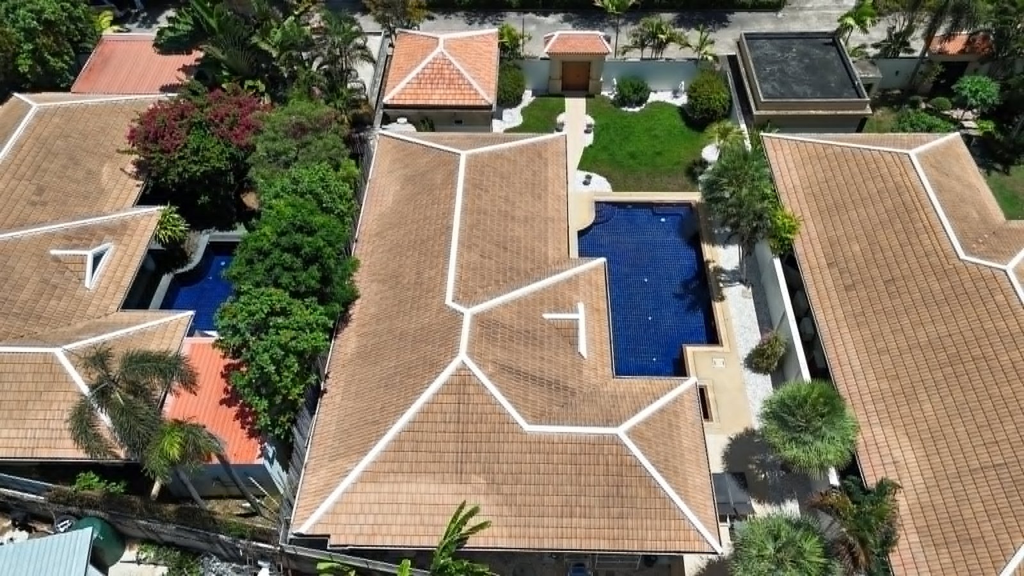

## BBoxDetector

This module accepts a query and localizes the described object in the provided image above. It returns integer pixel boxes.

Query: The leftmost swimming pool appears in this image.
[149,227,246,332]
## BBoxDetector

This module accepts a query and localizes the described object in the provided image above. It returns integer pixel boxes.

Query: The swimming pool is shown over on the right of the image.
[572,197,729,378]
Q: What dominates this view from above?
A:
buildings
